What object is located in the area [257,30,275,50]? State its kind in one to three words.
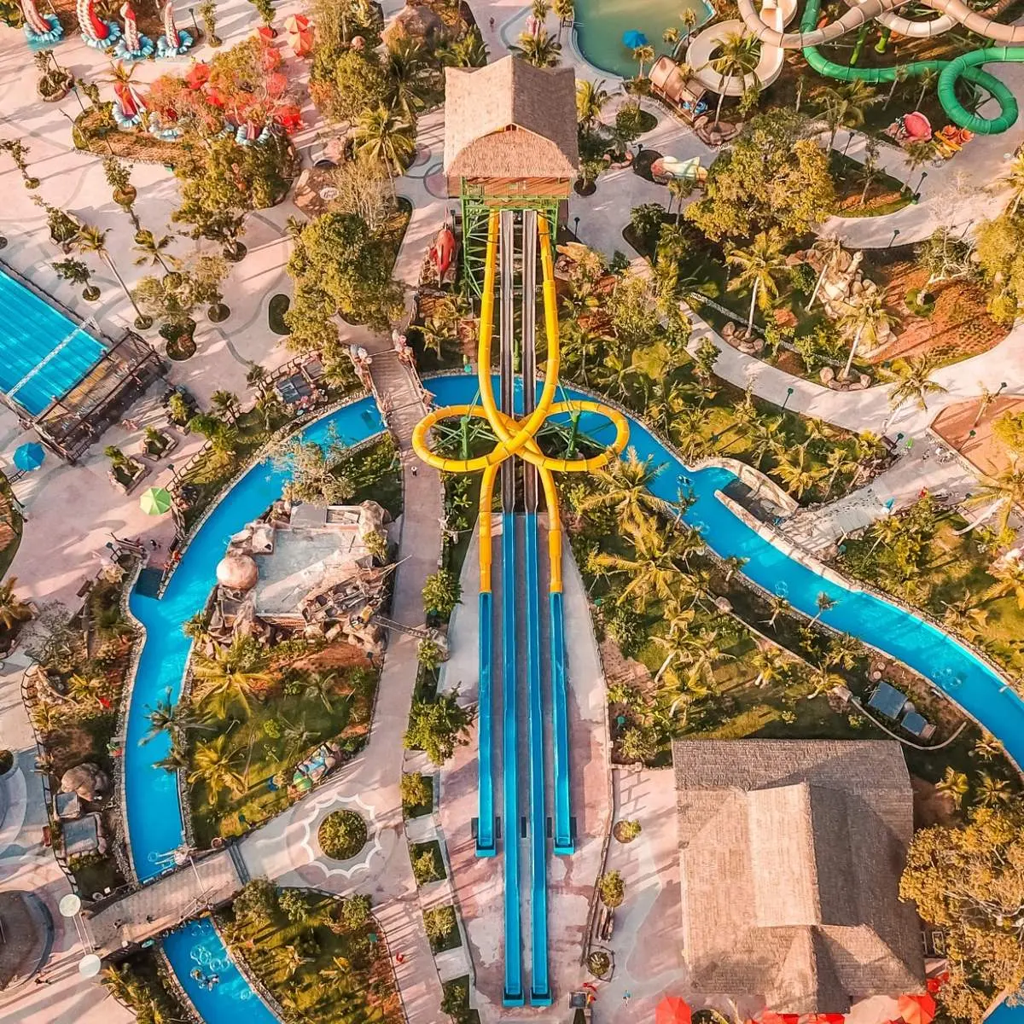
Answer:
umbrella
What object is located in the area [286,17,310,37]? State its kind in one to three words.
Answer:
umbrella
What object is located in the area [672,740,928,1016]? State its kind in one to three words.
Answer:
building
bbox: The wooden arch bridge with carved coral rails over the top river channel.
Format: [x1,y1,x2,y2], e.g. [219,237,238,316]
[360,336,436,452]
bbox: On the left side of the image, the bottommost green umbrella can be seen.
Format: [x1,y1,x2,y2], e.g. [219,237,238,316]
[141,489,171,516]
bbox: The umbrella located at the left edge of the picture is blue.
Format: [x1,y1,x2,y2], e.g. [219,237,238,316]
[14,445,46,473]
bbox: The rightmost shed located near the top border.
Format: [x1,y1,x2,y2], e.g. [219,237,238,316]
[643,45,707,128]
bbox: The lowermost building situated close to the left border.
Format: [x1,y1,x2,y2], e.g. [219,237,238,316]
[0,884,55,999]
